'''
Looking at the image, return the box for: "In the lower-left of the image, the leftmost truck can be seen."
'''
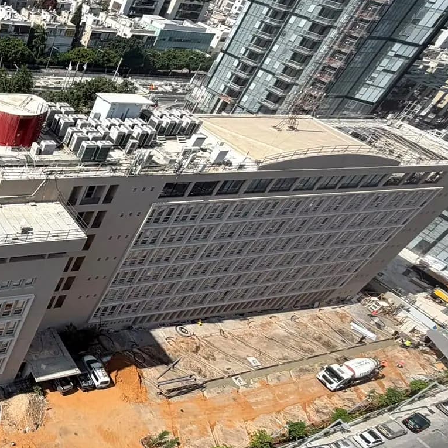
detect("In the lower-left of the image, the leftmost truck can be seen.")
[56,376,79,400]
